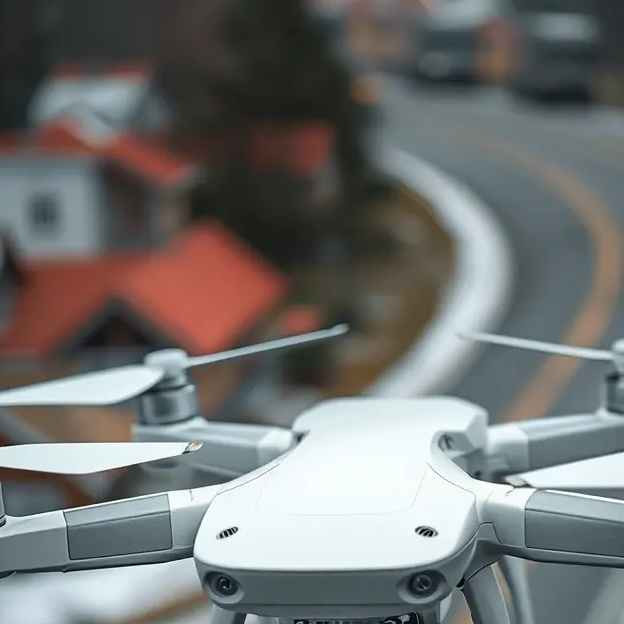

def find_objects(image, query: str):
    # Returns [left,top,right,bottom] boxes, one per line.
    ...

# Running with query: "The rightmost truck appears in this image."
[504,12,602,98]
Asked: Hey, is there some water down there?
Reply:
No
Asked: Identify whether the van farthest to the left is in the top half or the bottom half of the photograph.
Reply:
top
